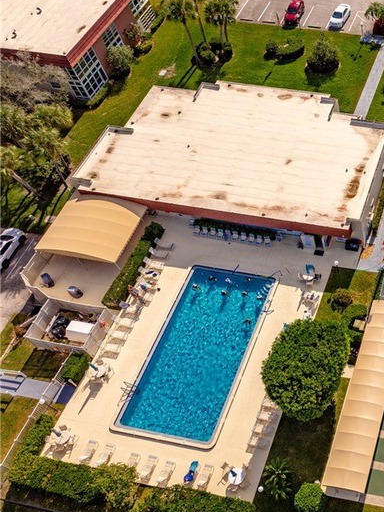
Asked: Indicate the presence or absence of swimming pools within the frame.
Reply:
Yes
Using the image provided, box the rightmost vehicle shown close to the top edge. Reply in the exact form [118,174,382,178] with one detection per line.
[330,7,351,30]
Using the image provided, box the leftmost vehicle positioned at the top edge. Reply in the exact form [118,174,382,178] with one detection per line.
[283,2,305,25]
